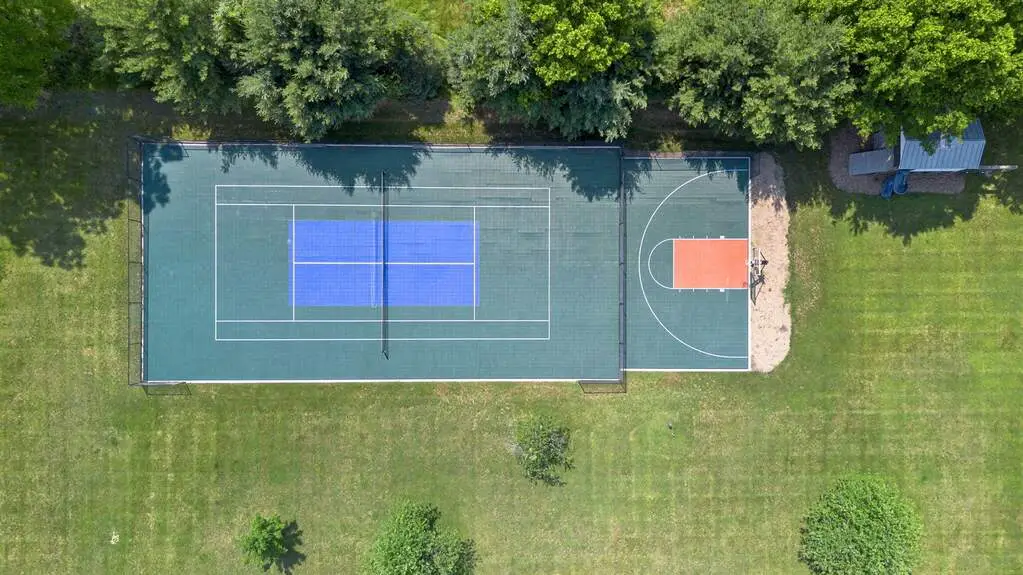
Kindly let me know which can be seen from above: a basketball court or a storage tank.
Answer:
basketball court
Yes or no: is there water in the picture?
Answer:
No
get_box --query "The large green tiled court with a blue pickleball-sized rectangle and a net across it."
[140,140,619,383]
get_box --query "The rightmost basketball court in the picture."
[619,155,751,371]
